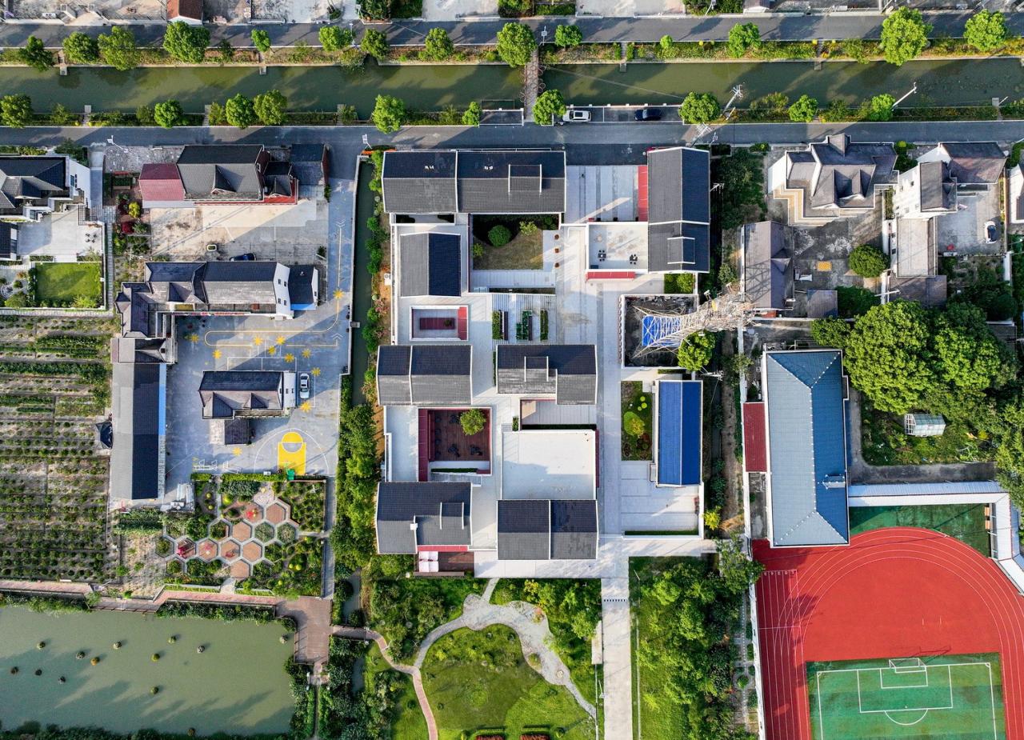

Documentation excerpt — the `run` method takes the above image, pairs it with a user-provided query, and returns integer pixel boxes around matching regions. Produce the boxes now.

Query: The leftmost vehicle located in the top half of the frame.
[229,250,258,262]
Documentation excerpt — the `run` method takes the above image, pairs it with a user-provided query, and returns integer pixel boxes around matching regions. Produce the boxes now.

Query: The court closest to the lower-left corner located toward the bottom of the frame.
[278,432,306,475]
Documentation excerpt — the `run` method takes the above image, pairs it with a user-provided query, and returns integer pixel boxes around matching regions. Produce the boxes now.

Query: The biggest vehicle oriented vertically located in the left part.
[297,372,311,400]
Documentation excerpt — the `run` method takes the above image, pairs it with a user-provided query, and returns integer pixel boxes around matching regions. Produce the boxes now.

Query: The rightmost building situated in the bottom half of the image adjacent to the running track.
[758,348,851,548]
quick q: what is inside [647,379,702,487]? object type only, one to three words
building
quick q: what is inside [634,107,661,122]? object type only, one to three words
car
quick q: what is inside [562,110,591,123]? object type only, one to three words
vehicle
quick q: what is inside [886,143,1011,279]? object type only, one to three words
house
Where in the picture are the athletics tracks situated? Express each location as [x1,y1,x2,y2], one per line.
[752,526,1024,740]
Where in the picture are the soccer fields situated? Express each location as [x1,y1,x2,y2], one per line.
[807,653,1008,740]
